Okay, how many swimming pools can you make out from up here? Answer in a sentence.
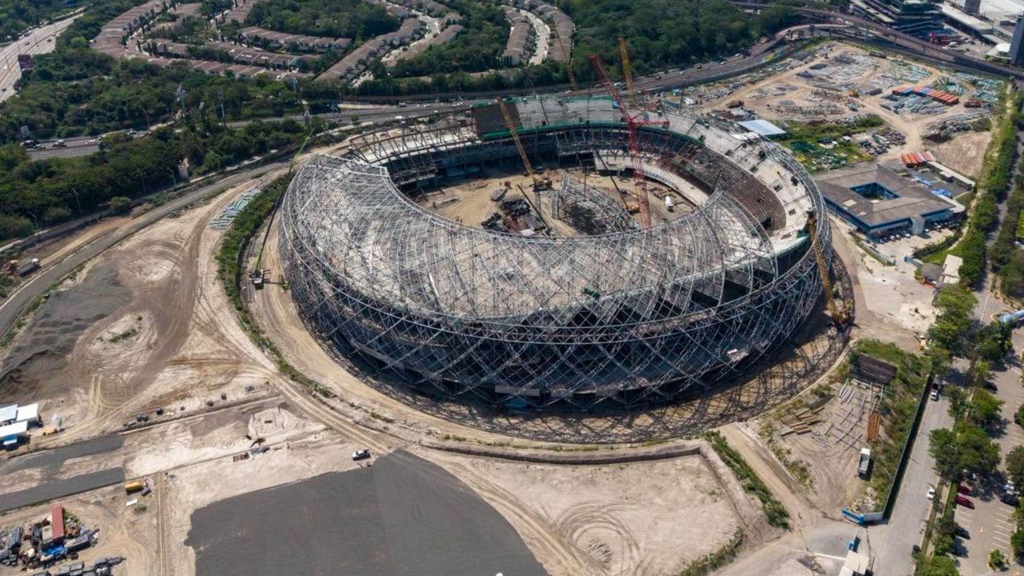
I count no swimming pools.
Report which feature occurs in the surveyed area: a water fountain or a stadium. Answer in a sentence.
Visible in the photo is a stadium.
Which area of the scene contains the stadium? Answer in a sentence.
The stadium is located in the center region of the scene.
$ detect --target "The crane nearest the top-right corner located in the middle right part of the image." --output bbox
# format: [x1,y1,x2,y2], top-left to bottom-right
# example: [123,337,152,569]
[800,212,861,326]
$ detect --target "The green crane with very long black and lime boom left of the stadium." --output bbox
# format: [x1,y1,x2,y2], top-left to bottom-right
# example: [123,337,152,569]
[241,134,311,290]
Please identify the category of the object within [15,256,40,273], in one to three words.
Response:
vehicle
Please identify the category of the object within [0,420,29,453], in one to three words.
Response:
building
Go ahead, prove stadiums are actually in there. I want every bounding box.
[278,92,835,411]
